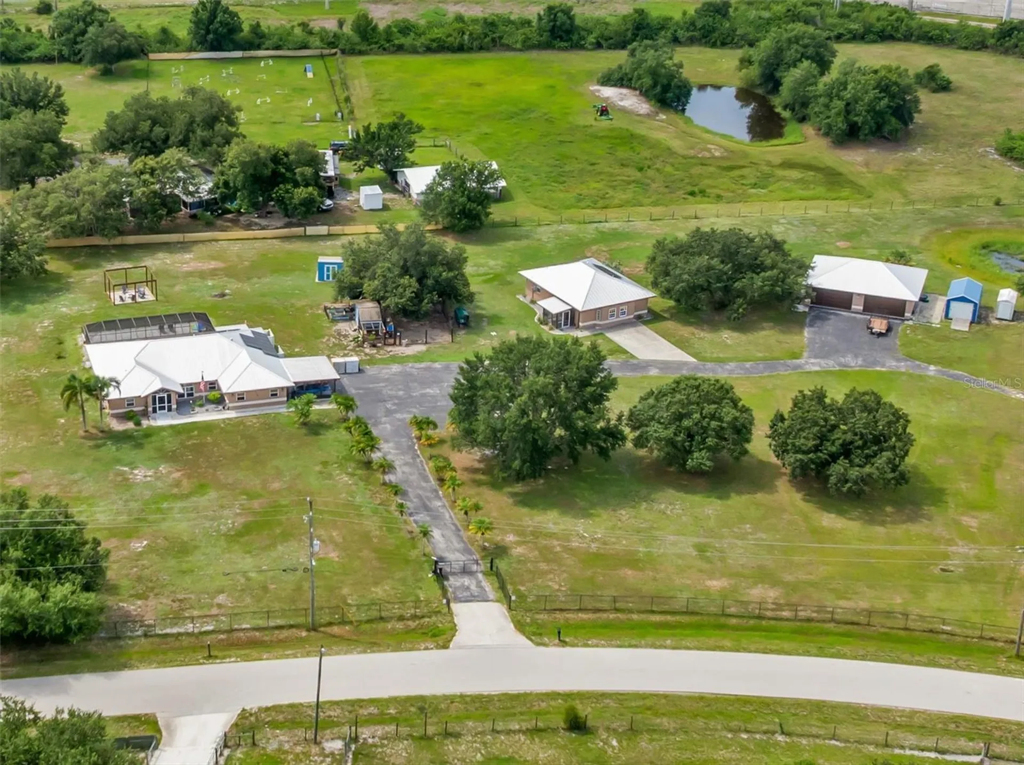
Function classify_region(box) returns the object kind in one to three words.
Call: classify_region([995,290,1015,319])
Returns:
shed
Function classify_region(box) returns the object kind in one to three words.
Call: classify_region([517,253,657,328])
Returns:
house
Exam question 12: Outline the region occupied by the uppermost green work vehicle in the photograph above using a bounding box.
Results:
[589,103,615,121]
